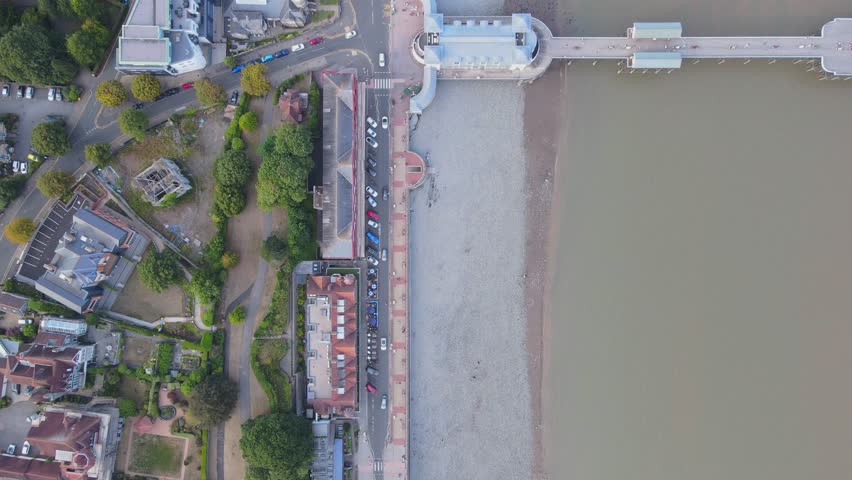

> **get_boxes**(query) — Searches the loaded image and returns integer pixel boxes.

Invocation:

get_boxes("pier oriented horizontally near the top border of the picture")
[551,17,852,80]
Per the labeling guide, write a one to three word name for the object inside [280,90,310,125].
house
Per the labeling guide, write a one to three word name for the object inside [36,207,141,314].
building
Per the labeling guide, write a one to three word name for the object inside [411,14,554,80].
building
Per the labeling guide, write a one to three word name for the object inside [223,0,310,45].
house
